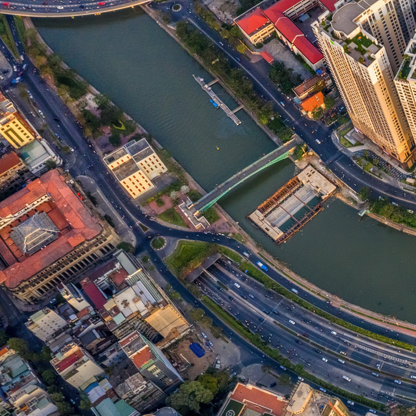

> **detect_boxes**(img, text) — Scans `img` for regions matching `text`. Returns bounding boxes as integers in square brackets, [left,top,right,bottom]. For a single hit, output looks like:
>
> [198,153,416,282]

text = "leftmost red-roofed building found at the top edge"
[236,8,280,49]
